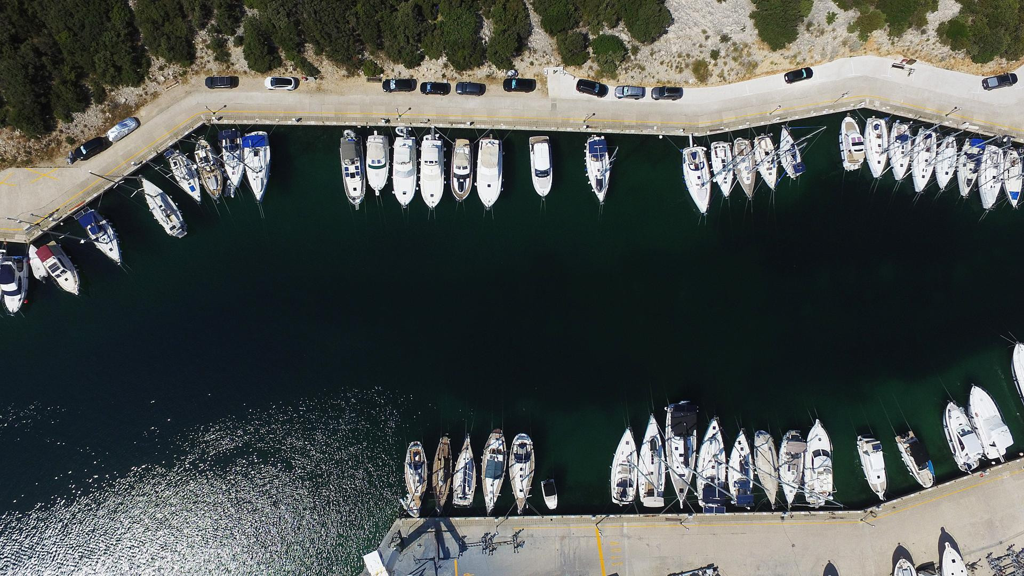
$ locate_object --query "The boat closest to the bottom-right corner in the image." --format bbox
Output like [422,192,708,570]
[934,539,972,576]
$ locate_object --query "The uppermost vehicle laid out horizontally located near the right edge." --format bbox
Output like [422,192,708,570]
[980,72,1017,91]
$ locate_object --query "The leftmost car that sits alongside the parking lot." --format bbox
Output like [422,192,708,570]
[503,77,534,94]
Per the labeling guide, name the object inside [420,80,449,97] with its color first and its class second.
black car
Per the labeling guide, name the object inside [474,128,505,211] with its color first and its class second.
white boat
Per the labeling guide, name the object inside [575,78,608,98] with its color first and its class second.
black car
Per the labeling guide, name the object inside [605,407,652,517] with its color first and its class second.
white boat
